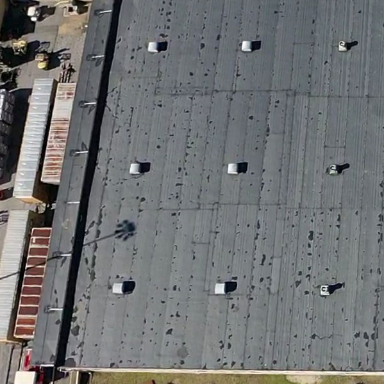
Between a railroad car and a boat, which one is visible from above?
railroad car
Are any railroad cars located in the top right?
No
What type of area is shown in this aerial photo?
industrial area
